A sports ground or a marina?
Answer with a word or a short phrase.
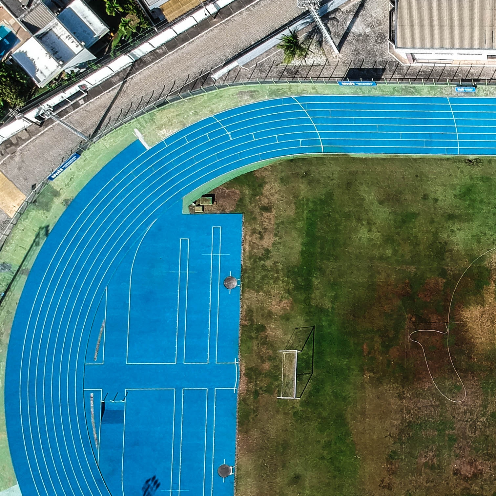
sports ground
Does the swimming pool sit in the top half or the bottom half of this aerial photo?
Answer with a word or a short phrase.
top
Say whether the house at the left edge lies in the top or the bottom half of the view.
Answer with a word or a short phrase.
top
